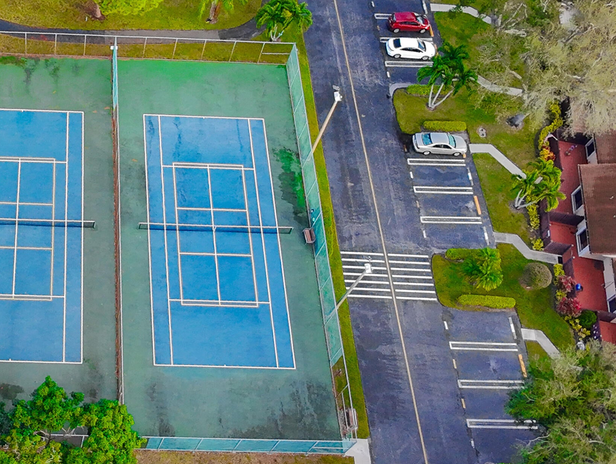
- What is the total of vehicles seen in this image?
three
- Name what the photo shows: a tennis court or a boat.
tennis court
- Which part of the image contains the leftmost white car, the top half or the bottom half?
top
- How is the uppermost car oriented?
from side to side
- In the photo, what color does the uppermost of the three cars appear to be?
red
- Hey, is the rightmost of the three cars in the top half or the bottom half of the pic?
top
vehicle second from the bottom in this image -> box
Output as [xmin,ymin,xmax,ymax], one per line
[387,35,437,59]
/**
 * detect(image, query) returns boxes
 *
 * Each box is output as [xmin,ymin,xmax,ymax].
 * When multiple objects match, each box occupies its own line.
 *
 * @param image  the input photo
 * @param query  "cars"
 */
[387,35,437,59]
[388,11,431,33]
[415,131,469,155]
